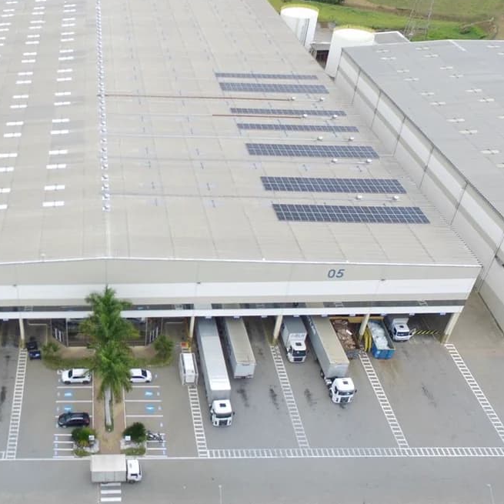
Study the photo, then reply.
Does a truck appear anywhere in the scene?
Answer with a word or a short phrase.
Yes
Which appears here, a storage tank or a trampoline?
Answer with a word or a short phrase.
storage tank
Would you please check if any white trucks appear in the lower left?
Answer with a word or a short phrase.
Yes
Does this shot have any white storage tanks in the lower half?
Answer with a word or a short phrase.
No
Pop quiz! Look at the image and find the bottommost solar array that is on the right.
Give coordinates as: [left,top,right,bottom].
[271,203,430,223]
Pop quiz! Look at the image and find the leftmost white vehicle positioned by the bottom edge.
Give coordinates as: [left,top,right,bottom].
[94,452,149,484]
